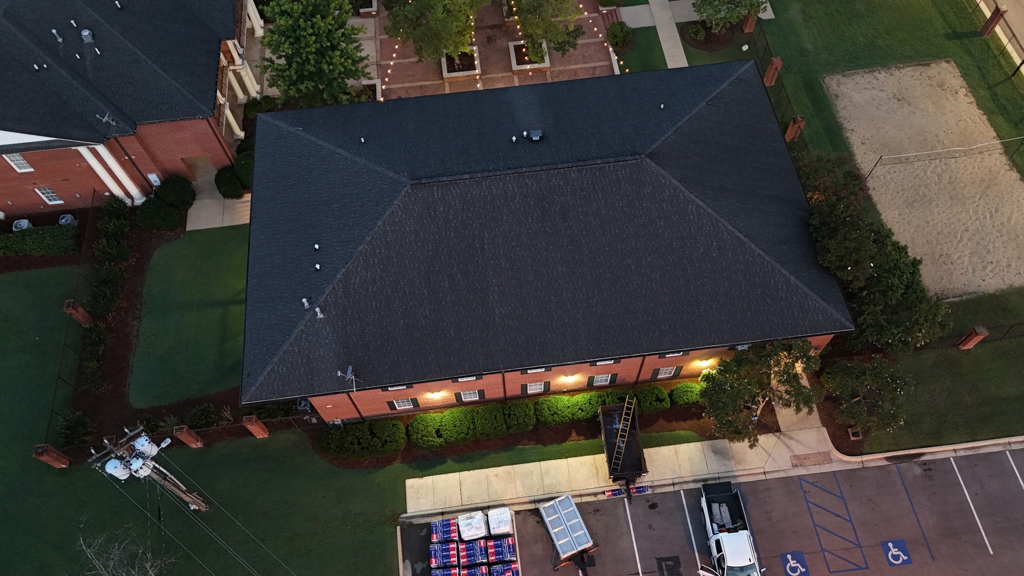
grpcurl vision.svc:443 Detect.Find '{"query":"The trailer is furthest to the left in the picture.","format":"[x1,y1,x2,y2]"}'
[539,493,603,576]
